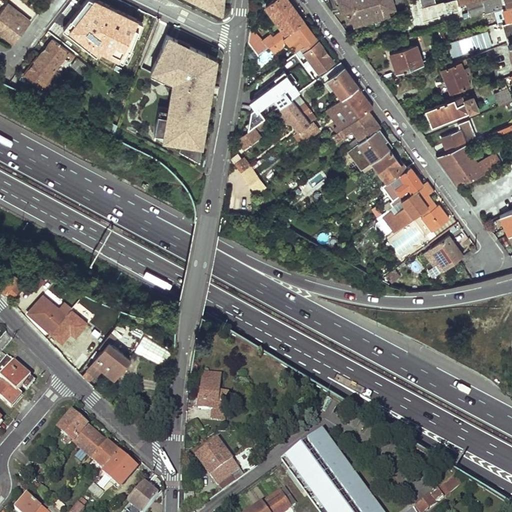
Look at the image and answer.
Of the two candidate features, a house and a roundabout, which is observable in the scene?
house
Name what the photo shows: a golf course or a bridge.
bridge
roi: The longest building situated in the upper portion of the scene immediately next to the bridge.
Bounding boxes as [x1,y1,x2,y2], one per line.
[151,40,219,165]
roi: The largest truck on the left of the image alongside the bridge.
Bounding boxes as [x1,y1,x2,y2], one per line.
[139,269,176,294]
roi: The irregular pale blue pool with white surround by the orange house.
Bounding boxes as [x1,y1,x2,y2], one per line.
[257,52,273,68]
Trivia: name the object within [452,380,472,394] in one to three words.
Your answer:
vehicle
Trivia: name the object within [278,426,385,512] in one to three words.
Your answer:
building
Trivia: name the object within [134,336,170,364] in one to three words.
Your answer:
greenhouse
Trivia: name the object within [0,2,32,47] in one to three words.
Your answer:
house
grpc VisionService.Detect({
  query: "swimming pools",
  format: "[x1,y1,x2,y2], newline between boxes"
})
[317,232,330,244]
[257,52,273,68]
[409,260,424,274]
[309,172,325,188]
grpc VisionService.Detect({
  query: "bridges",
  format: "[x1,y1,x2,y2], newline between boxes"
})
[172,210,224,322]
